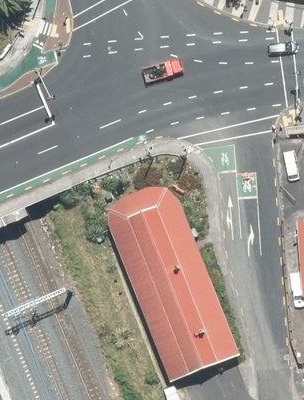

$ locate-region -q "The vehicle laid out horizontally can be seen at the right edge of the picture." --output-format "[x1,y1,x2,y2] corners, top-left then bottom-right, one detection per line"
[268,40,299,56]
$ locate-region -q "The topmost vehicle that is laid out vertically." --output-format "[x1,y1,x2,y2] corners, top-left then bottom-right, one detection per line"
[284,150,301,181]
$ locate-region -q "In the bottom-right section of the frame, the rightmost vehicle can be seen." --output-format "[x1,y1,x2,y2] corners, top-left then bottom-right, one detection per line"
[290,274,304,308]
